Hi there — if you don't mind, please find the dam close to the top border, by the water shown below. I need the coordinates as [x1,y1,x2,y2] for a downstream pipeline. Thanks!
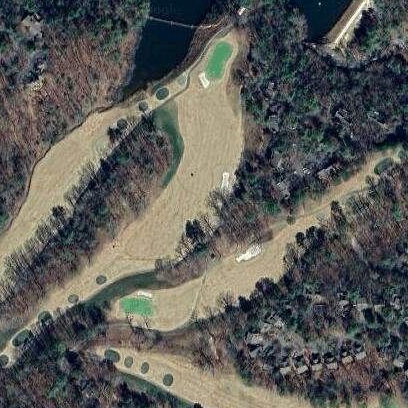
[317,0,375,53]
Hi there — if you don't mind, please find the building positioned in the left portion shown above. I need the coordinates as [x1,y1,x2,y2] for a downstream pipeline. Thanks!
[21,14,42,40]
